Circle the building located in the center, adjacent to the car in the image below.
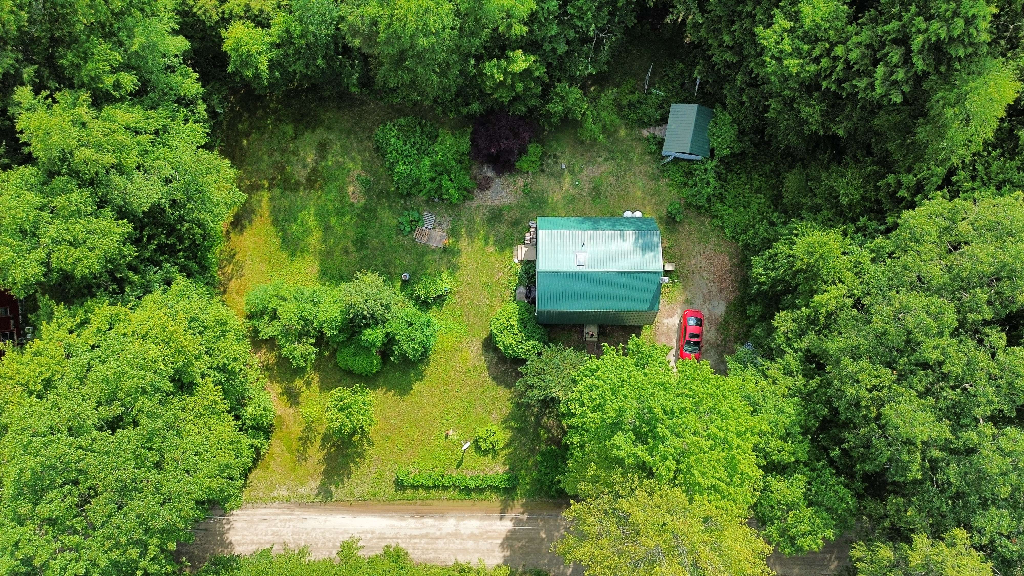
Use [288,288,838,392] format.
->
[534,217,672,327]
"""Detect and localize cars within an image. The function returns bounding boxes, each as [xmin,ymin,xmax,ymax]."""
[678,310,706,368]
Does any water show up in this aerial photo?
No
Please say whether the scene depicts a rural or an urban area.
rural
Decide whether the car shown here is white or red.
red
